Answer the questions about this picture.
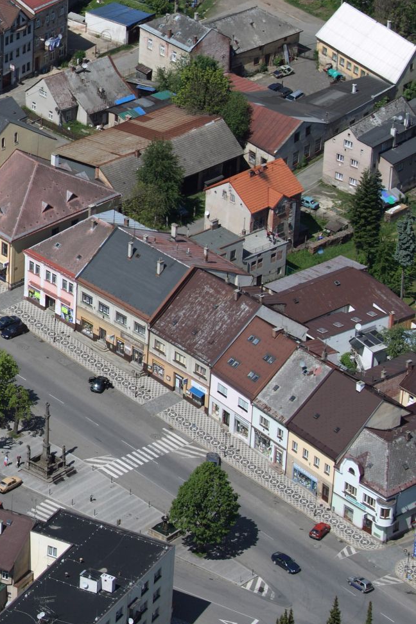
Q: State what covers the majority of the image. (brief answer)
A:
buildings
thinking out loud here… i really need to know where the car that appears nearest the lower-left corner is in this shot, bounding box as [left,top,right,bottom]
[0,475,23,492]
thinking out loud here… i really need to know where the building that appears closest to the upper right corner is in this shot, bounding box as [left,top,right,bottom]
[314,2,416,105]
